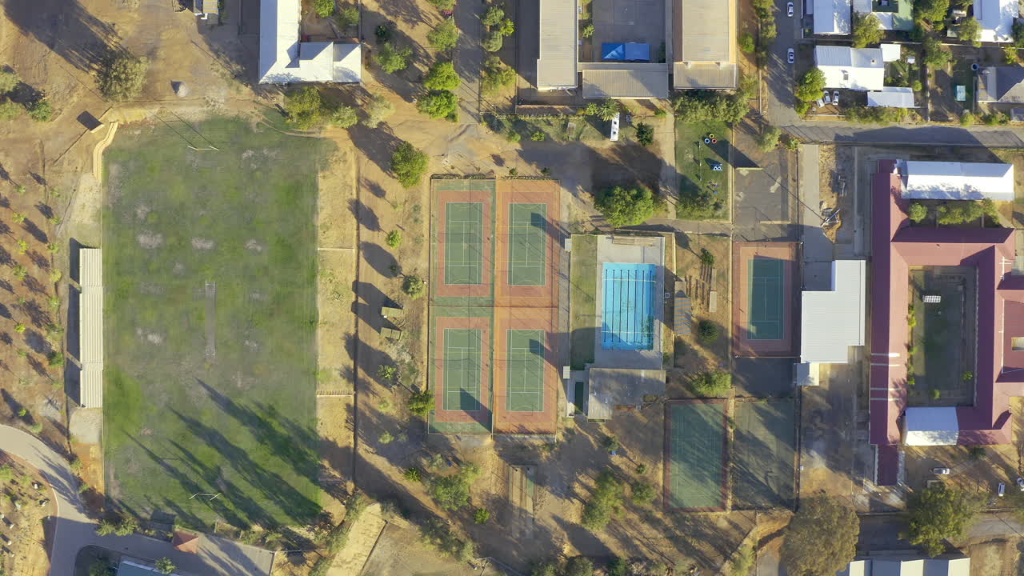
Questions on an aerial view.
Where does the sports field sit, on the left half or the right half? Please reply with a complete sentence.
The sports field is on the left side of the image.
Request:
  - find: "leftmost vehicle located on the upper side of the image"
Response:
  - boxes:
[609,113,621,142]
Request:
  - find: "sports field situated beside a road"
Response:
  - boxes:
[98,114,326,535]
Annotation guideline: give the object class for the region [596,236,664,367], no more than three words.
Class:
swimming pool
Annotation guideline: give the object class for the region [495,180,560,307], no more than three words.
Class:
tennis court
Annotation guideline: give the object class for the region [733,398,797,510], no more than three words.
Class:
sports court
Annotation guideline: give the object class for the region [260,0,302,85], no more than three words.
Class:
building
